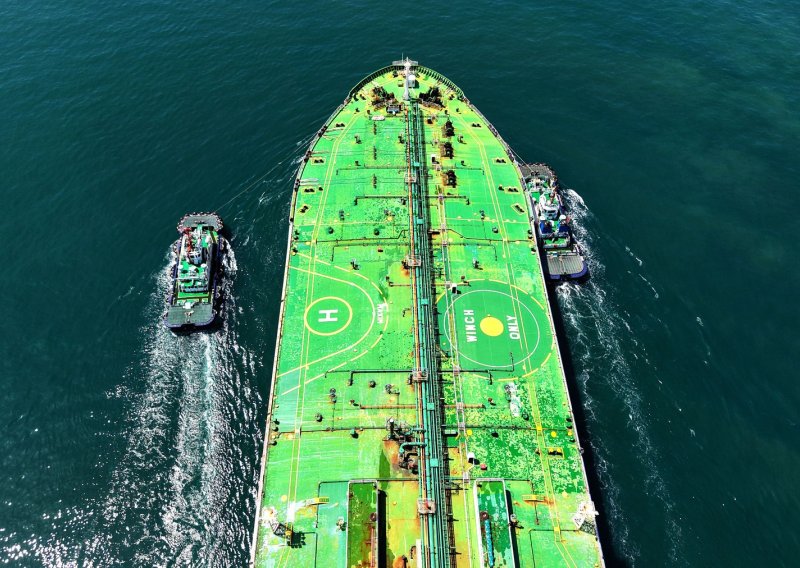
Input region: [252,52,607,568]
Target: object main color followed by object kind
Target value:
green ship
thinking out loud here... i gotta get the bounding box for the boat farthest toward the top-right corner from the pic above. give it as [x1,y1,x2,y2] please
[516,159,588,278]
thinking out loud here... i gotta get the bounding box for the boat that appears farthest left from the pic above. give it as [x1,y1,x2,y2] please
[162,209,223,328]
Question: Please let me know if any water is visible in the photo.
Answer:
Yes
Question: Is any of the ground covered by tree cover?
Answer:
No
